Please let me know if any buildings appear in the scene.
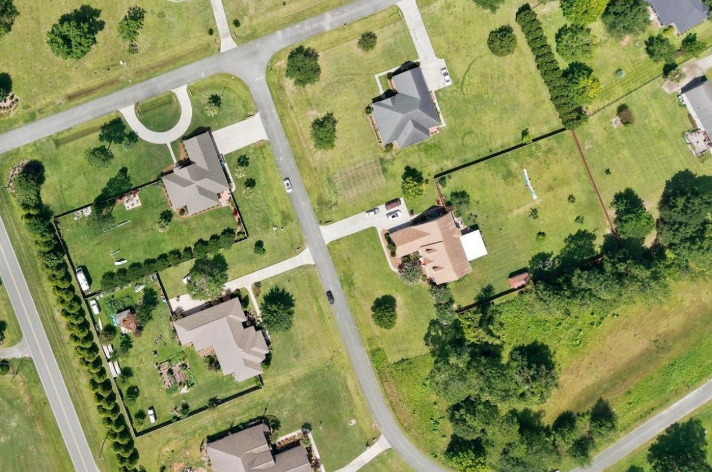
Yes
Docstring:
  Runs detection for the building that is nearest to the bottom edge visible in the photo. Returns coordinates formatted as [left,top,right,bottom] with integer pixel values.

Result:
[207,422,311,472]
